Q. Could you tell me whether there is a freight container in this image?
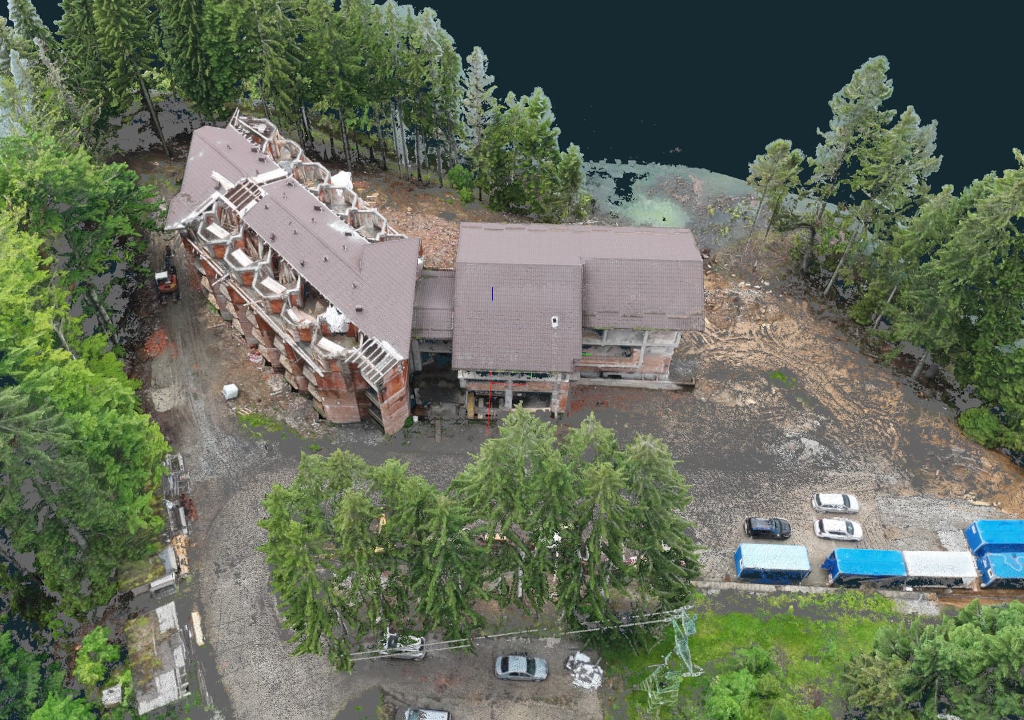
Yes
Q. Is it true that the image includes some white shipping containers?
Yes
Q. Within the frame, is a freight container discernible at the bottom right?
Yes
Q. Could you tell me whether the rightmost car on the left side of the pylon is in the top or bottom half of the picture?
bottom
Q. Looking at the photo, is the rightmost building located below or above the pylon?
above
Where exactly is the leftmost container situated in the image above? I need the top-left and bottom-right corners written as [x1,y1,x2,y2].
[735,544,812,583]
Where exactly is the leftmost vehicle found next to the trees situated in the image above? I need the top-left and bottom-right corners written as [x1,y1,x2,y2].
[149,253,178,303]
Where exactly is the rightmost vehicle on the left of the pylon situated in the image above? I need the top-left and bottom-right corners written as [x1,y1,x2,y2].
[494,655,549,682]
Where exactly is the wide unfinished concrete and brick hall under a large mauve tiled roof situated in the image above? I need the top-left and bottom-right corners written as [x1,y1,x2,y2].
[451,226,707,416]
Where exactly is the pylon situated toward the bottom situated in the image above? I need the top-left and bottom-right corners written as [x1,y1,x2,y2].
[640,600,711,720]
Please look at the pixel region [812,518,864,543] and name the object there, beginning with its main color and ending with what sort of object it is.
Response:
white car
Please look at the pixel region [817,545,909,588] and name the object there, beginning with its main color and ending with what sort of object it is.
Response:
blue shipping container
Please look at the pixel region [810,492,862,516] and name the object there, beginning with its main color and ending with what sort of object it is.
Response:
white car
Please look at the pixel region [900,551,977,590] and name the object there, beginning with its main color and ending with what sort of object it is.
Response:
white shipping container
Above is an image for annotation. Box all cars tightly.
[494,655,549,682]
[373,635,427,662]
[744,516,791,541]
[812,518,864,543]
[810,492,862,516]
